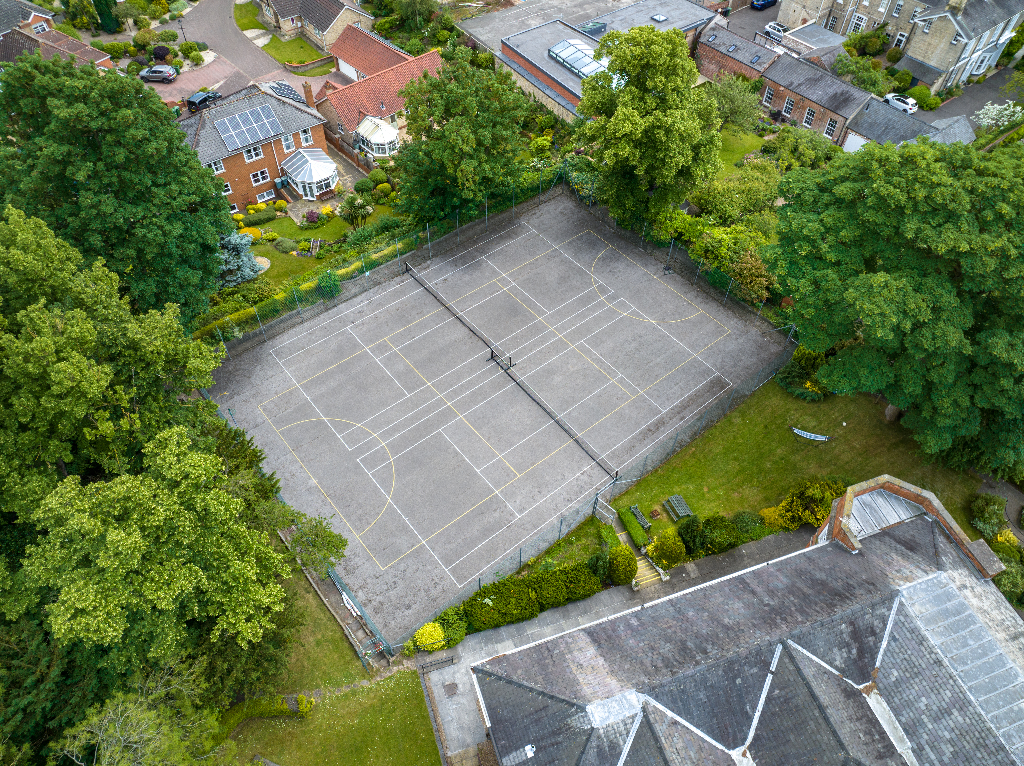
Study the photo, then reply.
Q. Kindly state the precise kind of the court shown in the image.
tennis court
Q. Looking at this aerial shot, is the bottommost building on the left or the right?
right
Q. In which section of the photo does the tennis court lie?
center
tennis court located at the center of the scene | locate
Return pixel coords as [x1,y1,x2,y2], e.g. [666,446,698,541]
[200,192,794,662]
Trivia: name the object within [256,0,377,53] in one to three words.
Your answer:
house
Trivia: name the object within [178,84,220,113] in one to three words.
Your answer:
car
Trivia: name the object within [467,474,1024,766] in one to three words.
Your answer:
building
